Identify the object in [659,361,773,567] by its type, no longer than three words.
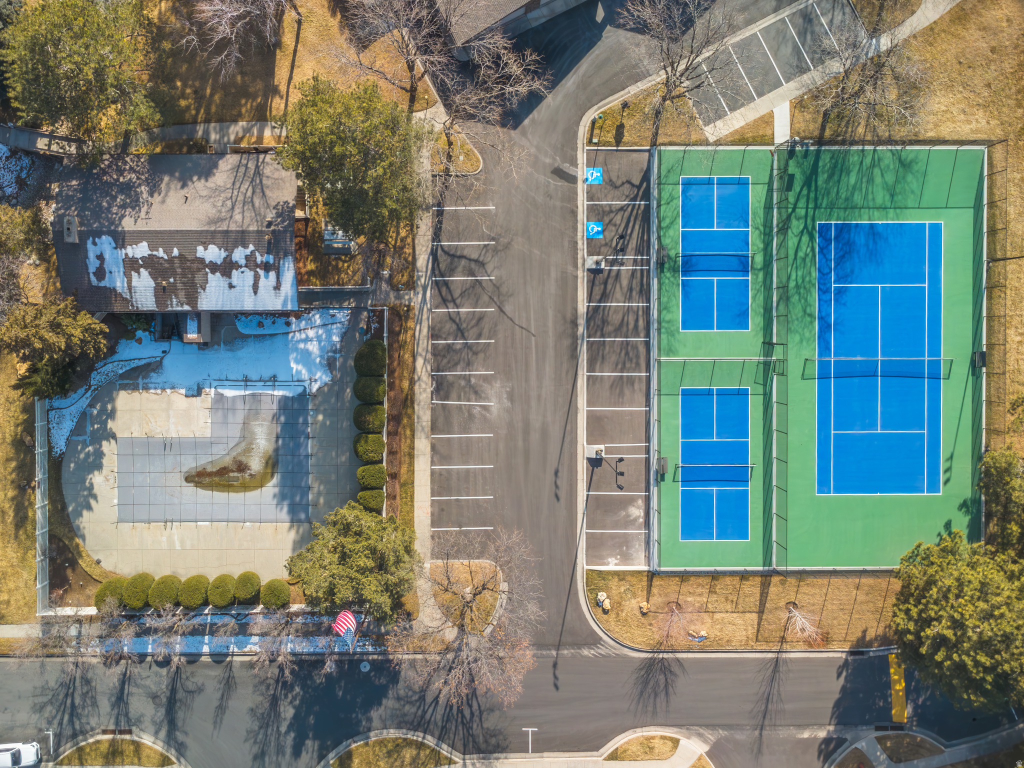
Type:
sports court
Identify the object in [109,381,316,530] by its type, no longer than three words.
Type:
swimming pool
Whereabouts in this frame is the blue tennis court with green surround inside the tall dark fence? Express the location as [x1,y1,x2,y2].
[776,148,986,567]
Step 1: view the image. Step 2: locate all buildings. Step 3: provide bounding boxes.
[52,152,300,342]
[441,0,581,50]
